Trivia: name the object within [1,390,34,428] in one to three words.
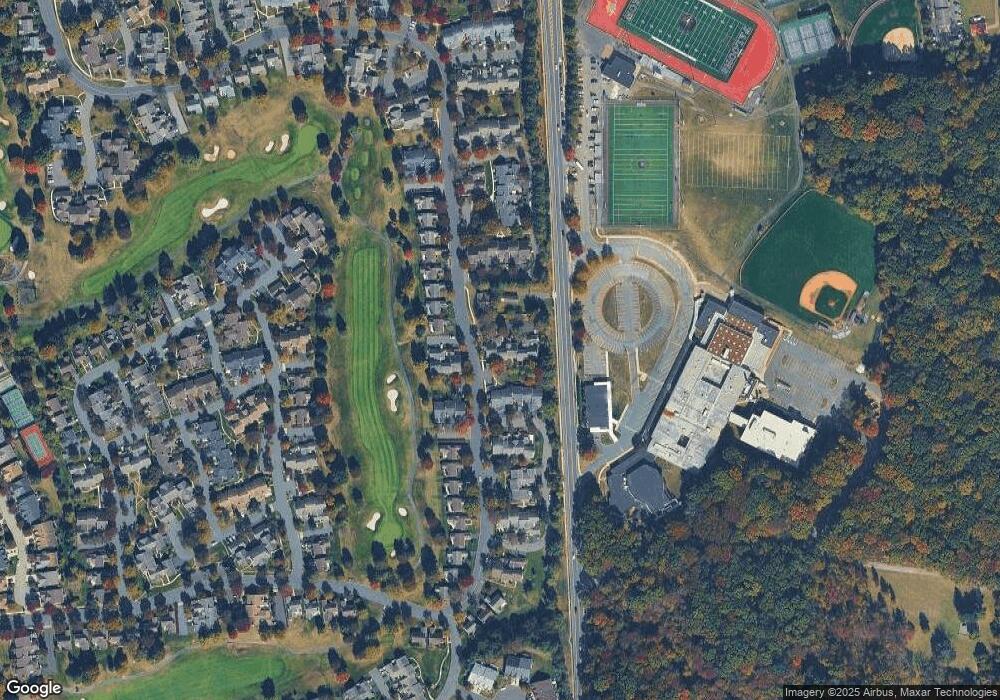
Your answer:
tennis court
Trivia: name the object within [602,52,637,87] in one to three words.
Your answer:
building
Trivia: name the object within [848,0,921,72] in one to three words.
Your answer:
baseball field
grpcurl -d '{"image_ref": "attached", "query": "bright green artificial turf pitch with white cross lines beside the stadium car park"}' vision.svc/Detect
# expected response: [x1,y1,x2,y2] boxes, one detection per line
[603,99,679,229]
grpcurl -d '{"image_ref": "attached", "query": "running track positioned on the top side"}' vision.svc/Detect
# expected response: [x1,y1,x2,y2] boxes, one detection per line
[584,0,775,107]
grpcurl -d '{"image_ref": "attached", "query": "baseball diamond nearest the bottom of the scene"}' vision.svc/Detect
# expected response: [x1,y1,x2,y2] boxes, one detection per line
[737,190,876,330]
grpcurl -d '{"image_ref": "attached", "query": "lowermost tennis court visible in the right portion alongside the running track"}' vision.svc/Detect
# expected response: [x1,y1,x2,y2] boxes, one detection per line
[780,12,842,62]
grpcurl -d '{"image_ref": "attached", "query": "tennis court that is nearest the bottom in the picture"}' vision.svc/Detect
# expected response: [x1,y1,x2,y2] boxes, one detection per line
[21,426,54,468]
